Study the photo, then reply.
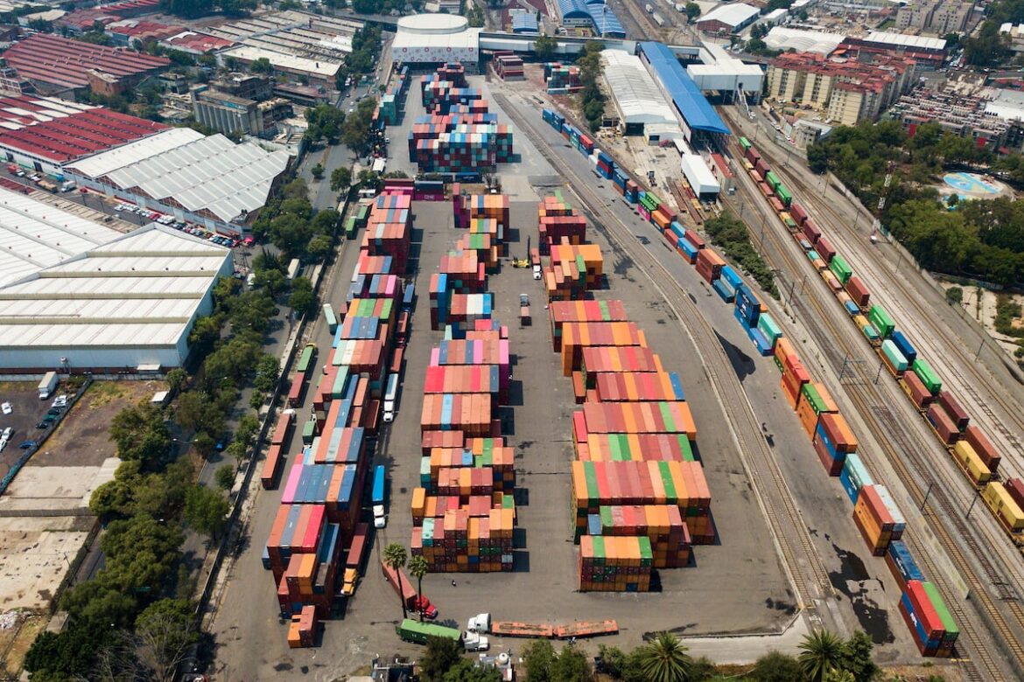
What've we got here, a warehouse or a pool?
warehouse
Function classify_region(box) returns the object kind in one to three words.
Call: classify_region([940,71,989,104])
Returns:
building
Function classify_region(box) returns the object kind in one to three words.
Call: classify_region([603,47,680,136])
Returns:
shed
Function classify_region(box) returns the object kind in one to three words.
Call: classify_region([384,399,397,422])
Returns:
vehicle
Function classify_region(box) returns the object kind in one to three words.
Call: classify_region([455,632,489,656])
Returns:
truck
